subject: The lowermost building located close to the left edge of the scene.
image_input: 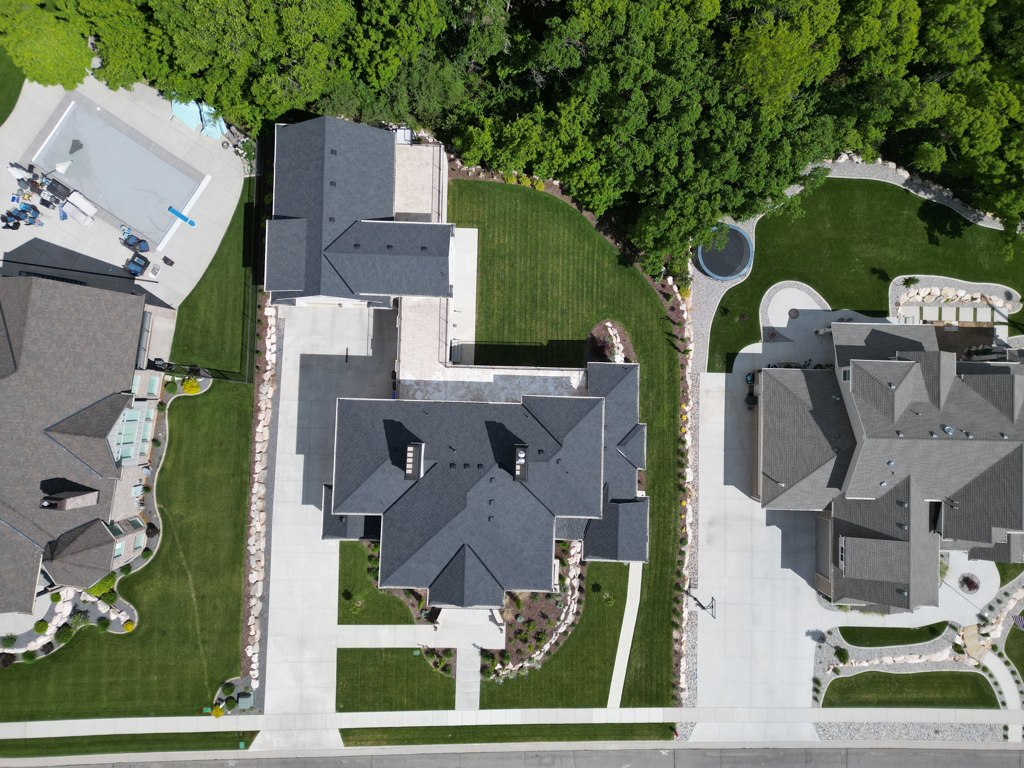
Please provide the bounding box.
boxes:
[0,273,177,615]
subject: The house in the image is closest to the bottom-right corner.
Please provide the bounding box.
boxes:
[754,322,1024,616]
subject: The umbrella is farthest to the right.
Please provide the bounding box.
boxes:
[48,159,72,180]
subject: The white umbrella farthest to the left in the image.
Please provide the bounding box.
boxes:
[5,166,28,183]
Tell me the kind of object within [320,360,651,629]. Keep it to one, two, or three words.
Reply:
house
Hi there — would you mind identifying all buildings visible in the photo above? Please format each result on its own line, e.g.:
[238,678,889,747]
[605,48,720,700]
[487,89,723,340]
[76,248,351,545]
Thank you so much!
[263,115,457,311]
[0,273,177,615]
[320,360,651,629]
[754,322,1024,616]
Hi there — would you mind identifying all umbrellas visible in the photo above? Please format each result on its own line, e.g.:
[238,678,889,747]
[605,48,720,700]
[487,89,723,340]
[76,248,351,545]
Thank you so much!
[5,166,28,183]
[48,159,72,180]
